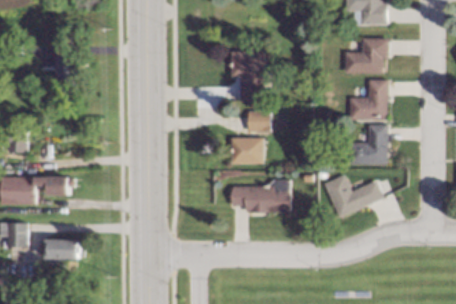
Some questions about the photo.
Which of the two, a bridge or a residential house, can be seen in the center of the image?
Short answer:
residential house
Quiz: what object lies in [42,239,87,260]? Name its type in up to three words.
house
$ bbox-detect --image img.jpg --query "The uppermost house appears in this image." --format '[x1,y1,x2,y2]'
[346,0,389,26]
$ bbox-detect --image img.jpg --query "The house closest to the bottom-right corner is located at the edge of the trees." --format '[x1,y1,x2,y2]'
[324,174,384,218]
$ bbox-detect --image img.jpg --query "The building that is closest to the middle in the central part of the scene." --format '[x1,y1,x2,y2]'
[232,138,266,165]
